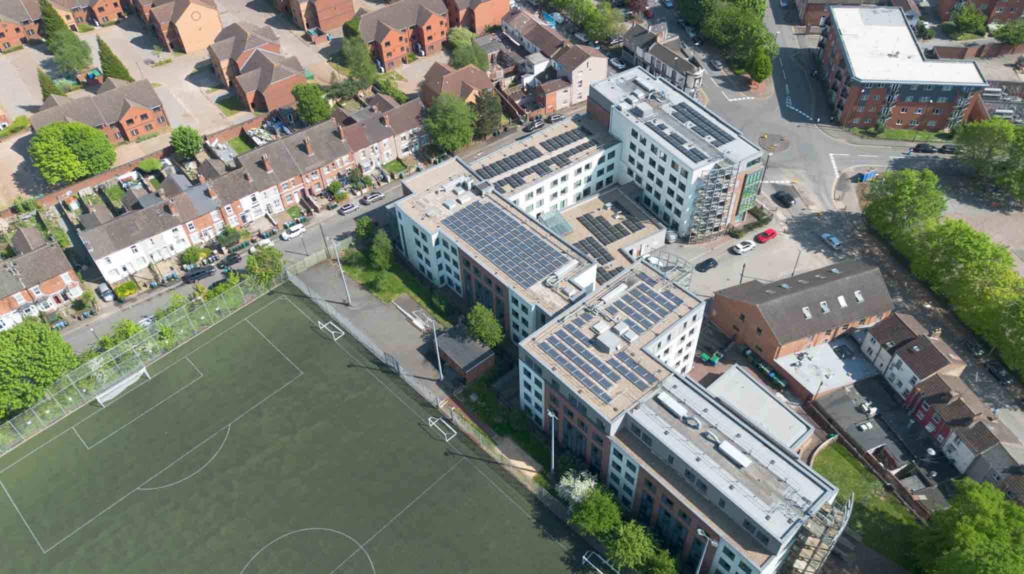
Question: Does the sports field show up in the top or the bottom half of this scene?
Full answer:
The sports field sits in the bottom half of the picture.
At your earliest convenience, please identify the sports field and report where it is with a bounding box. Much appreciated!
[0,283,601,574]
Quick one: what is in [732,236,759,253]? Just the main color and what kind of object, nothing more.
white car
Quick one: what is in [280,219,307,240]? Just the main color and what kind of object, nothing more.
white vehicle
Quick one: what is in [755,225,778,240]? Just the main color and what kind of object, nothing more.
red car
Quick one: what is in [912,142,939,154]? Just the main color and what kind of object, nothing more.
black vehicle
